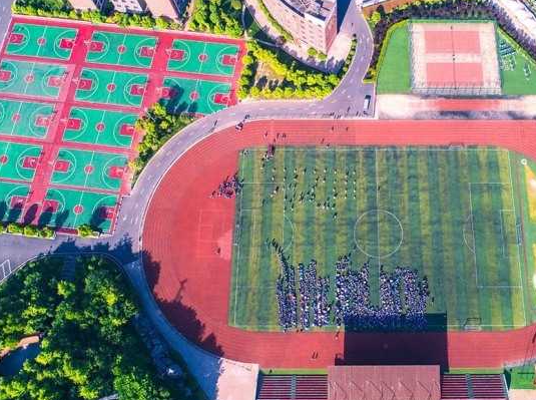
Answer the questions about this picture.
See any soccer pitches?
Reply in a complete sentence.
Yes, there's a soccer pitch here.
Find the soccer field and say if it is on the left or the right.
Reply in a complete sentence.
You can find the soccer field on the right side of the picture.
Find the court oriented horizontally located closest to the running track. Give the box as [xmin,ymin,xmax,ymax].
[157,76,231,116]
